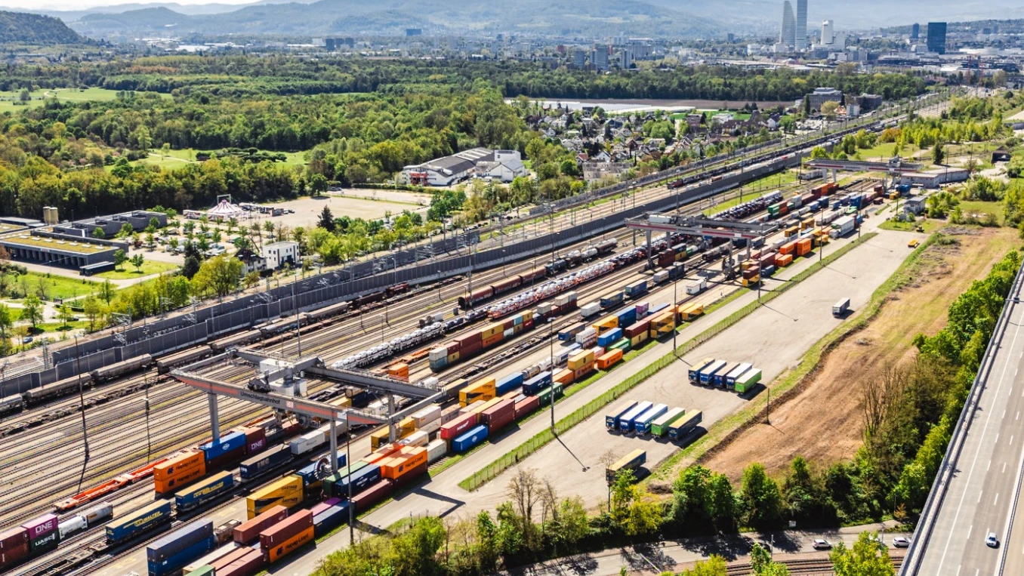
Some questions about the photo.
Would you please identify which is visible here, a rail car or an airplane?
rail car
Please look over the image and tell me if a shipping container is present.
Yes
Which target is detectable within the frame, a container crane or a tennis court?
container crane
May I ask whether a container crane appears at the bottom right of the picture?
No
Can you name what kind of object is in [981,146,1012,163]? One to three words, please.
barn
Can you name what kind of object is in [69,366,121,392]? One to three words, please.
rail car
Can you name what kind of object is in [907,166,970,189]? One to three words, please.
building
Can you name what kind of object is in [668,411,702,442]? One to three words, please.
trailer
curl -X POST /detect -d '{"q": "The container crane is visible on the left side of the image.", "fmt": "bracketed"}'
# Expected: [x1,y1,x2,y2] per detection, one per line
[163,350,442,480]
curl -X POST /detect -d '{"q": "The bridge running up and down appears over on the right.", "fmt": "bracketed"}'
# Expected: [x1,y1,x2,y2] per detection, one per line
[899,307,1024,576]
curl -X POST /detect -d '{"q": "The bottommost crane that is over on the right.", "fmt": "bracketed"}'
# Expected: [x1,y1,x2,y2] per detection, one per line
[612,211,787,279]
